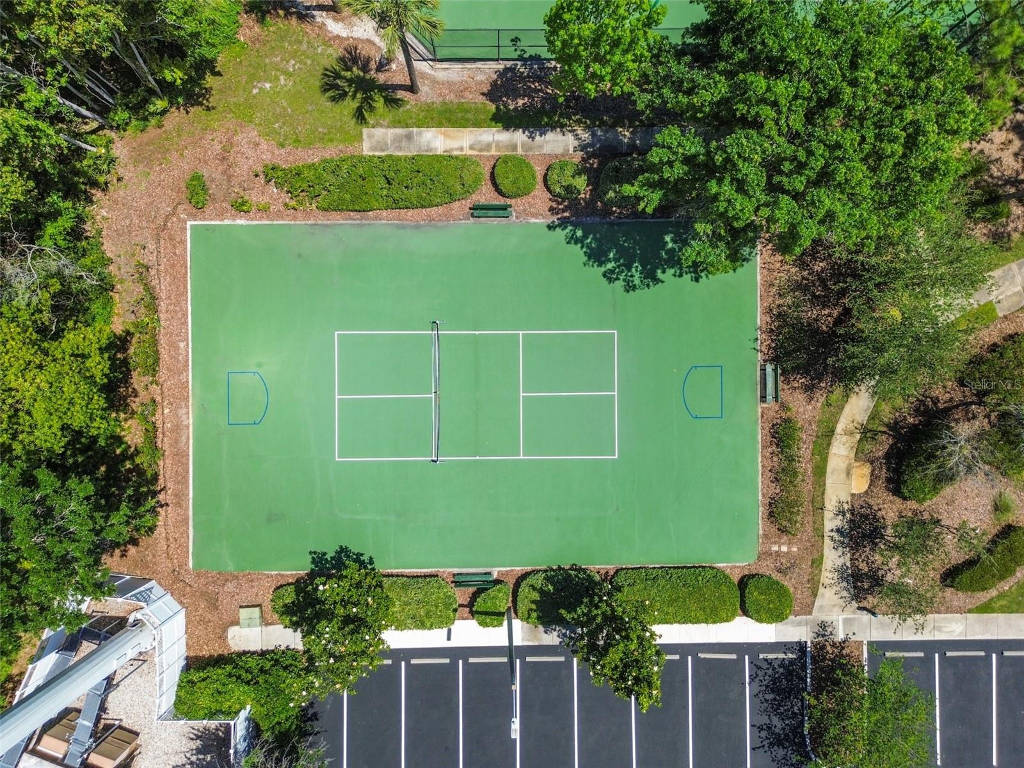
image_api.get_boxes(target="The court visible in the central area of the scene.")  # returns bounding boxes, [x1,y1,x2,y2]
[187,220,760,572]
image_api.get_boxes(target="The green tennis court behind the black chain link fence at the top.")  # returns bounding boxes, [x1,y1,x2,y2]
[386,0,1019,68]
